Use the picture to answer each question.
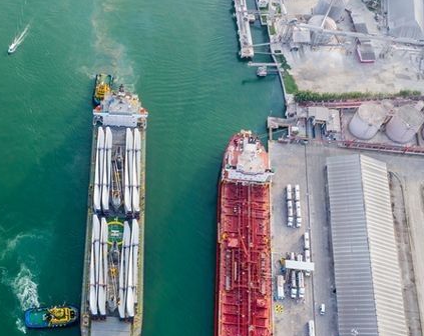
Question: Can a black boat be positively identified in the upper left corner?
No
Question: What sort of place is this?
industrial area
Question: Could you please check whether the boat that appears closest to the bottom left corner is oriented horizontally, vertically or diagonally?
horizontally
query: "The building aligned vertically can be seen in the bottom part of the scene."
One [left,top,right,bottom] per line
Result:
[323,157,408,336]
